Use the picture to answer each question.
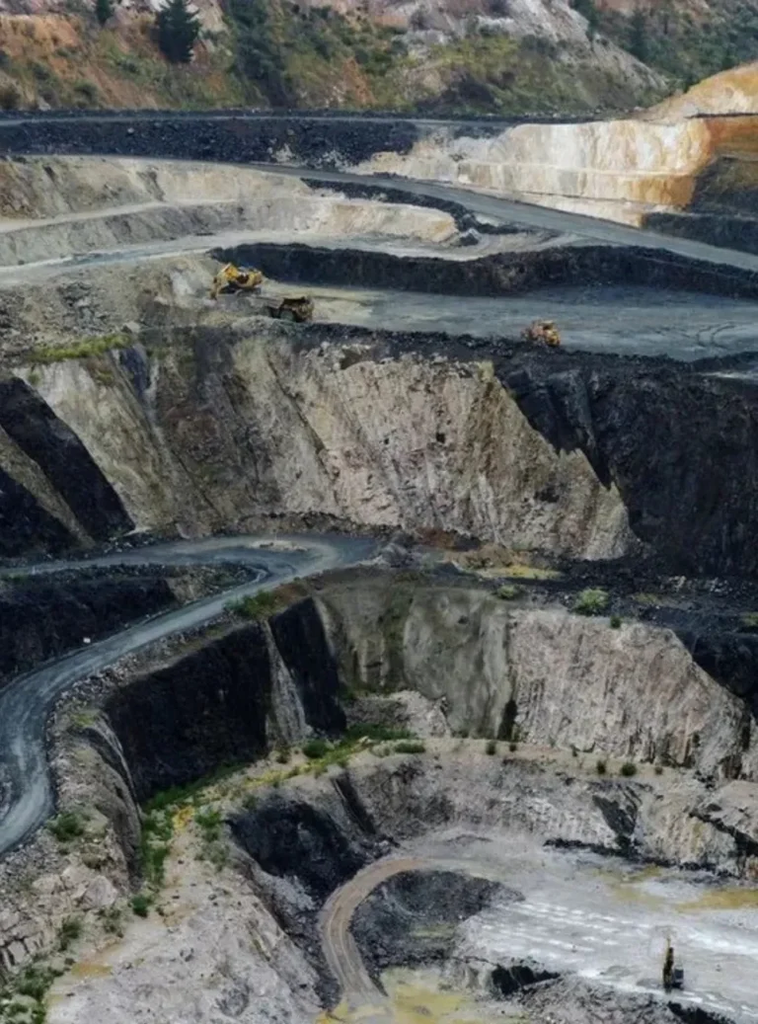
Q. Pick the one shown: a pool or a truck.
truck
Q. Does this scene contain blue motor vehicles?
No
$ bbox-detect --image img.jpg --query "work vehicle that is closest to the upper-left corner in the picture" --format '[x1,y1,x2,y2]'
[208,264,269,299]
